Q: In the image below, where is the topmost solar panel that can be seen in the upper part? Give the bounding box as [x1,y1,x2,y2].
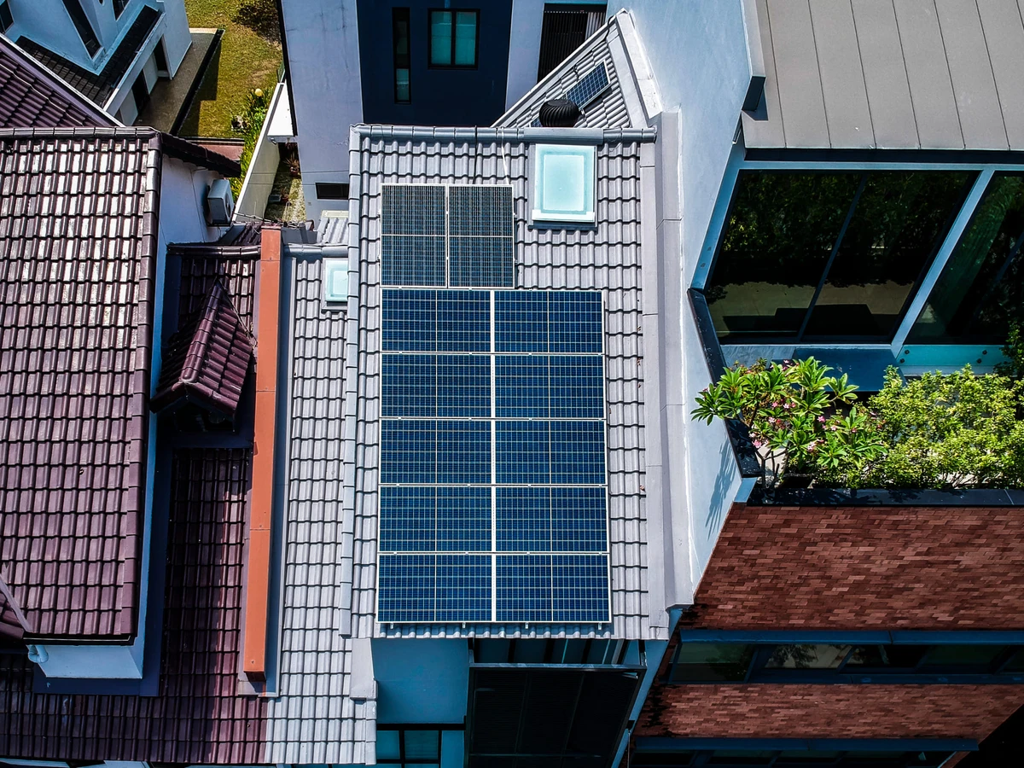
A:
[567,64,609,109]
